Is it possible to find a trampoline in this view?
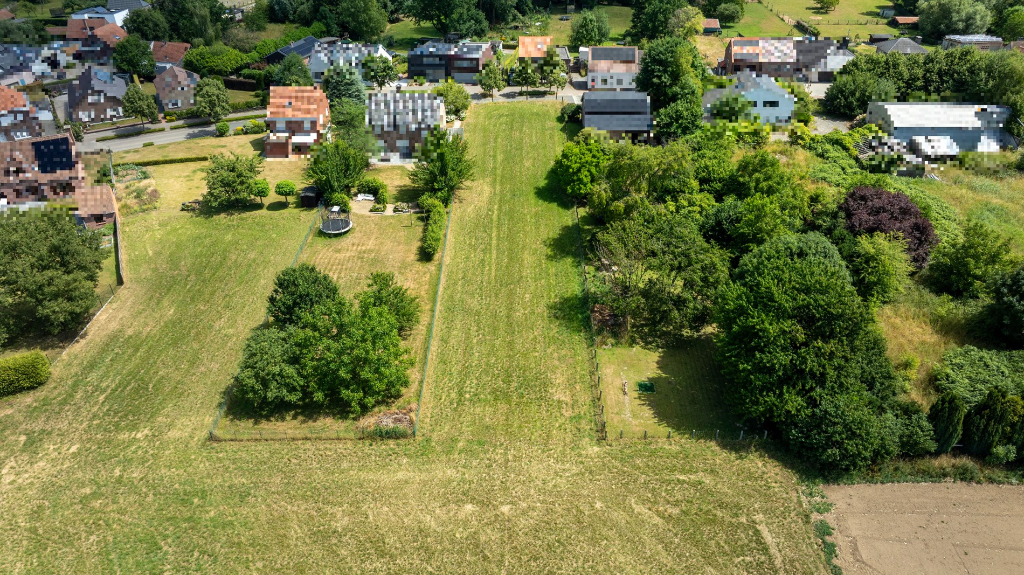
Yes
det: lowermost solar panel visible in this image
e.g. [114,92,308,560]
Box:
[31,129,78,168]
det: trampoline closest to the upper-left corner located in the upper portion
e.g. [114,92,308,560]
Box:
[315,203,353,238]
